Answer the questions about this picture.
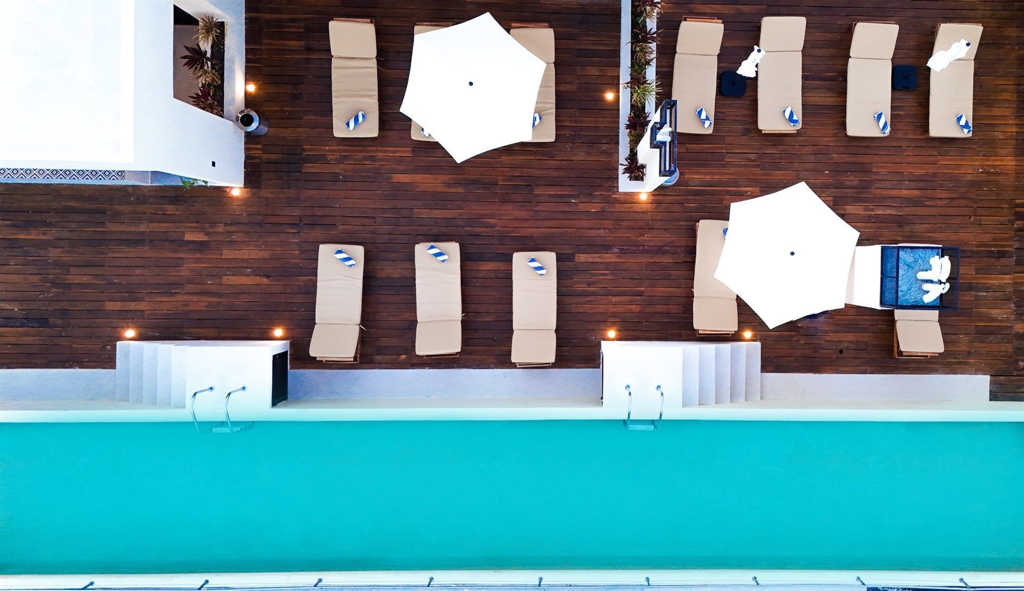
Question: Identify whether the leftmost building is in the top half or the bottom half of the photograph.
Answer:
top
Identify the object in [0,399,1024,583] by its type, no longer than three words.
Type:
swimming pool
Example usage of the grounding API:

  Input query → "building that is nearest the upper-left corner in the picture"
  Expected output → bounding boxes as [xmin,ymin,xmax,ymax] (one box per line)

[0,0,244,185]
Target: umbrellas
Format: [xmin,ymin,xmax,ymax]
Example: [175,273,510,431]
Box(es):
[720,48,762,96]
[400,11,547,163]
[714,181,860,329]
[892,42,970,90]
